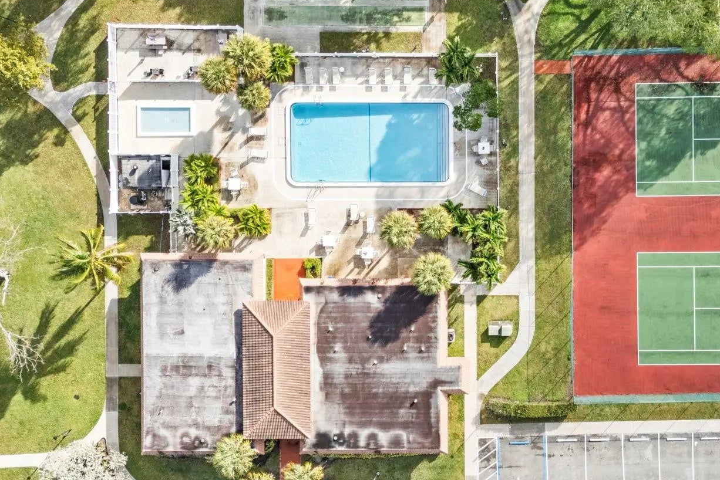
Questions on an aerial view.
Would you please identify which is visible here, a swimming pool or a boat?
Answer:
swimming pool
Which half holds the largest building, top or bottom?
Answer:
bottom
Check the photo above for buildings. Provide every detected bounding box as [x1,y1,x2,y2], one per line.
[140,252,470,455]
[122,157,161,187]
